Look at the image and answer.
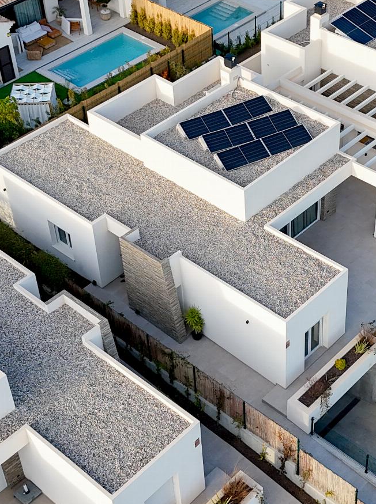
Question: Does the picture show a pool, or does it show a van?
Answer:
pool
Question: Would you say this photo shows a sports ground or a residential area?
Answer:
residential area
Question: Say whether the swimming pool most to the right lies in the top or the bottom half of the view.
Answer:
top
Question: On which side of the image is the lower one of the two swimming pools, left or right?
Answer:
left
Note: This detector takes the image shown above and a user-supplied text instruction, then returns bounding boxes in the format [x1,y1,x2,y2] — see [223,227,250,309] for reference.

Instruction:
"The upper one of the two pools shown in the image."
[183,0,265,41]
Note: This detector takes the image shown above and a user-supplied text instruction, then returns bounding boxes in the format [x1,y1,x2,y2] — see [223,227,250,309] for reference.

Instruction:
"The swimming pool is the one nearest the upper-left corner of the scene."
[33,26,167,91]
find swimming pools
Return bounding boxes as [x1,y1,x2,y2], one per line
[183,0,265,41]
[33,26,167,91]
